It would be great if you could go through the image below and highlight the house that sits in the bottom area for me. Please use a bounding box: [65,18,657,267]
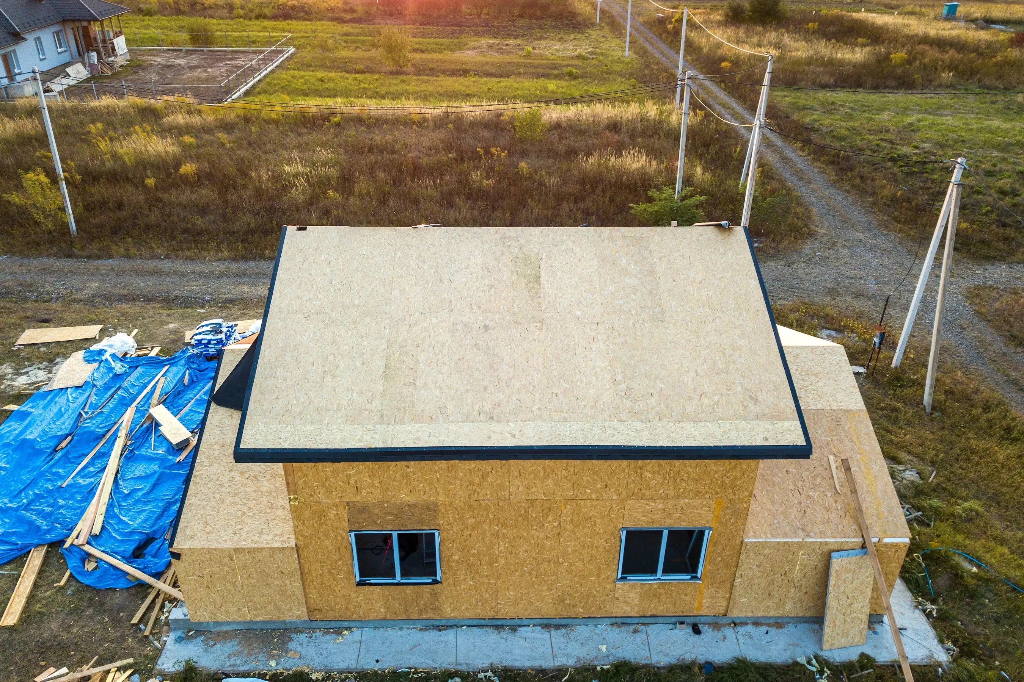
[167,226,911,635]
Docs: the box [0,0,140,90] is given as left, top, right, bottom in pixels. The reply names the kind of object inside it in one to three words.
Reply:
house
